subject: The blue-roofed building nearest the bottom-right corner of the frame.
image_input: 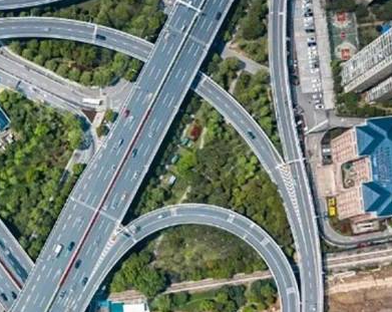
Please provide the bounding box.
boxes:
[333,116,392,225]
